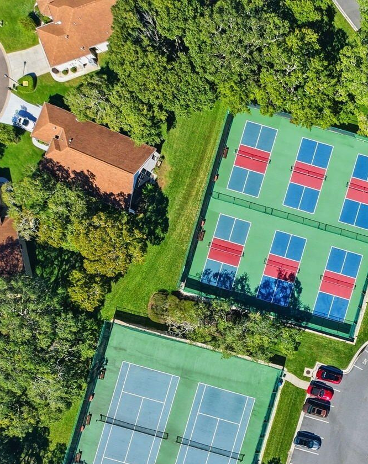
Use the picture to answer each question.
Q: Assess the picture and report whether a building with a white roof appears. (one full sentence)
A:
No, no building with a white roof is visible in the scene.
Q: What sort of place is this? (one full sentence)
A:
The picture captures a sports ground.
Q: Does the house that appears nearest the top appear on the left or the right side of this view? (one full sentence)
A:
You can find the house that appears nearest the top on the left side of the picture.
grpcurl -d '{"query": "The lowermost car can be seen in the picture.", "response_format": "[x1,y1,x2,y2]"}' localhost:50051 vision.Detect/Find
[294,434,322,450]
